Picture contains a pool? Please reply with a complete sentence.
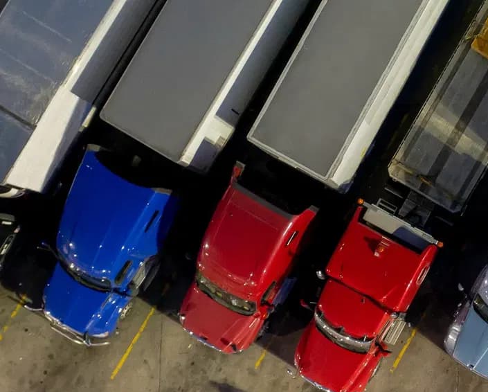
No, there is no pool in the image.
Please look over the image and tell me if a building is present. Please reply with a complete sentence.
No, the scene contains no building.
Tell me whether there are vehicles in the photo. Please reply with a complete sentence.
Yes, the photo shows a vehicle.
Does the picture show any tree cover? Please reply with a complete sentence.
No, no tree cover is visible.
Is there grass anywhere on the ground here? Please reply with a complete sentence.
No, there is no grass in the image.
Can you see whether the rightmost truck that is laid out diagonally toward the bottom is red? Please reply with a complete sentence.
Yes, red is the color of the rightmost truck that is laid out diagonally toward the bottom.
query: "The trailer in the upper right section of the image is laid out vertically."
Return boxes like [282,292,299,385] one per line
[387,0,488,209]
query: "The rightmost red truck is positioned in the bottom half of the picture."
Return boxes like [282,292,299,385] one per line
[289,171,488,392]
